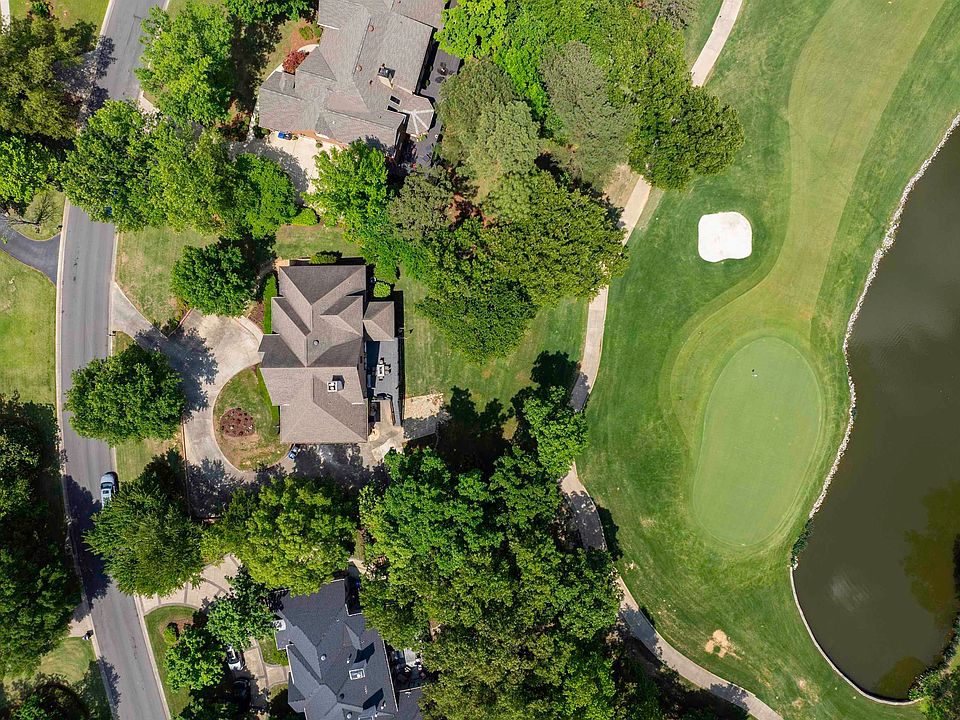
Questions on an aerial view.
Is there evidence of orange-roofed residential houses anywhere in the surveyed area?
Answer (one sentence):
No, the scene contains no orange-roofed residential house.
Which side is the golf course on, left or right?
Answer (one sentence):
The golf course is on the right side of the image.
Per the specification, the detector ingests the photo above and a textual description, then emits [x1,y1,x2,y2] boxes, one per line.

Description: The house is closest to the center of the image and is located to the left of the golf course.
[259,264,400,442]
